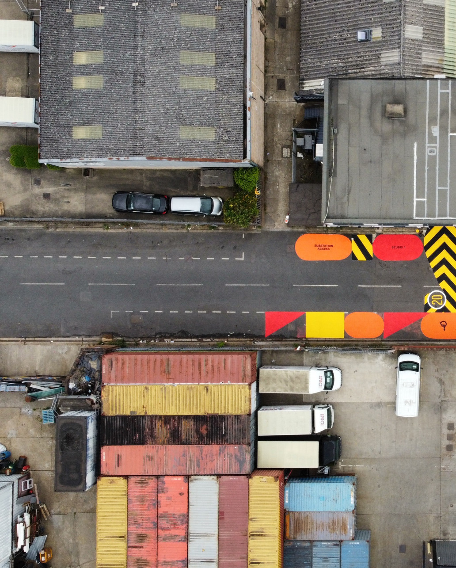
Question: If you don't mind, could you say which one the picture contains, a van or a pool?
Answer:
van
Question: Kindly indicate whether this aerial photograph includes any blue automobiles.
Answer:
No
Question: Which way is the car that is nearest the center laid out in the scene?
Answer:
from side to side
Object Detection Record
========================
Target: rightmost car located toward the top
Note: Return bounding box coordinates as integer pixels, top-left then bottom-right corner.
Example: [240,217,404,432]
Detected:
[171,195,224,219]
